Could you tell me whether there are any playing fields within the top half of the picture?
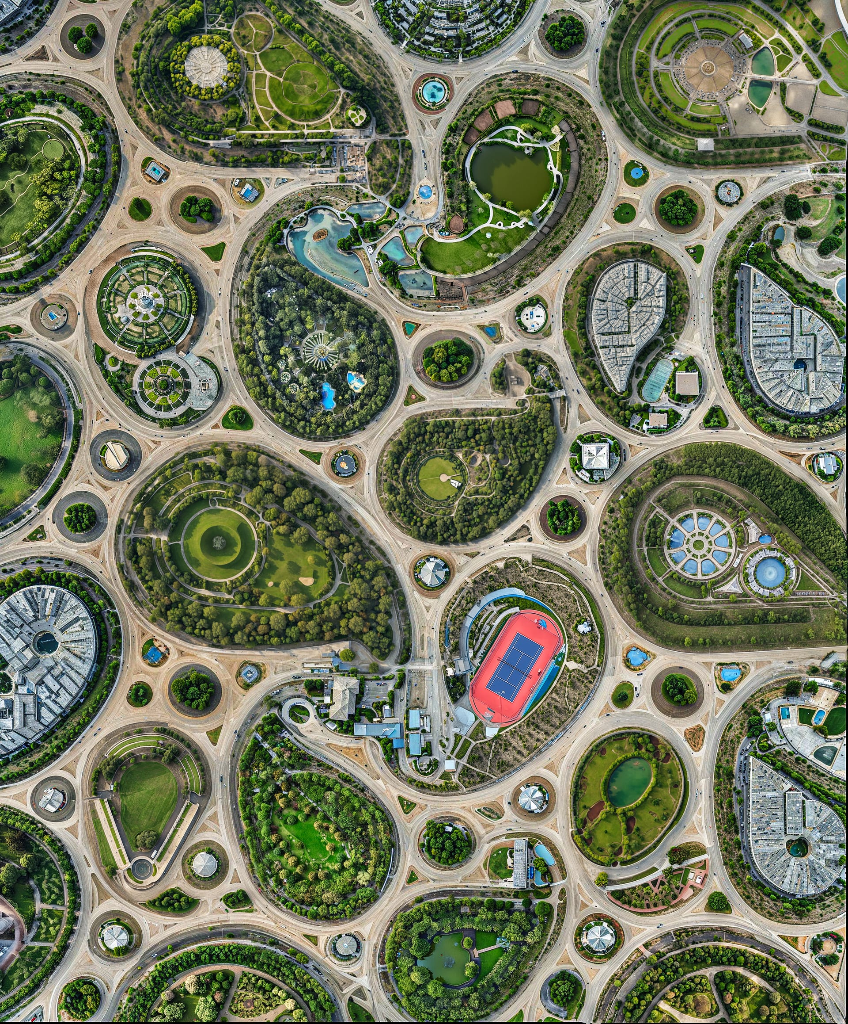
No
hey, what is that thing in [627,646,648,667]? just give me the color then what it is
blue swimming pool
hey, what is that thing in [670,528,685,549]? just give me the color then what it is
blue swimming pool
